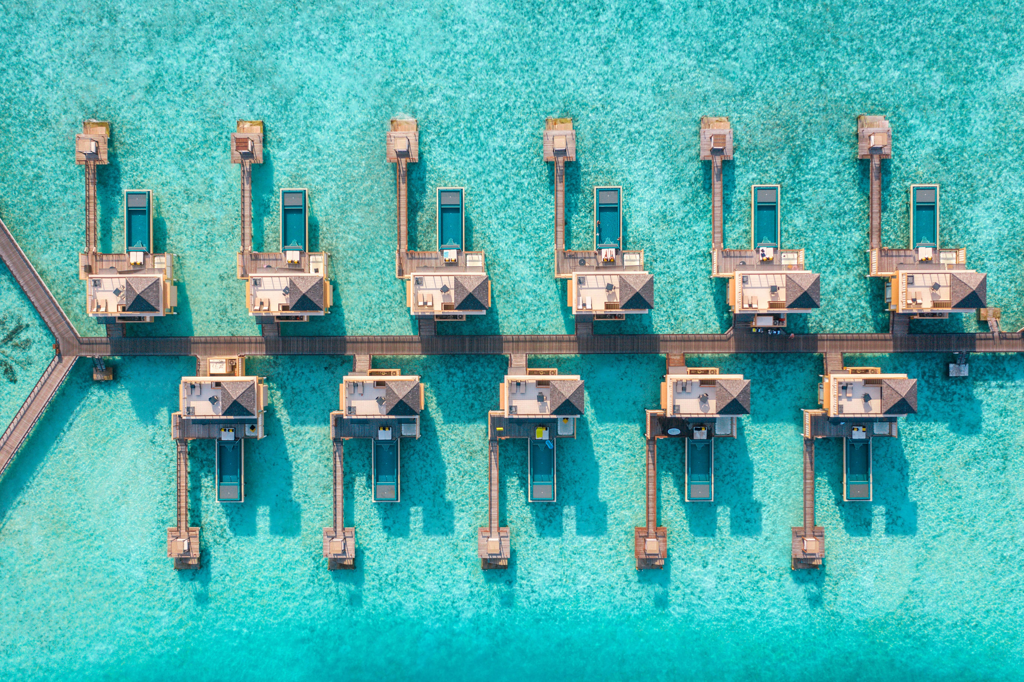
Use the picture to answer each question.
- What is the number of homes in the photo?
eleven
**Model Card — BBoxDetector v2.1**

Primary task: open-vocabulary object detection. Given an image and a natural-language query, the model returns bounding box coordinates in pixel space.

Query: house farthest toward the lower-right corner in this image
[798,364,917,439]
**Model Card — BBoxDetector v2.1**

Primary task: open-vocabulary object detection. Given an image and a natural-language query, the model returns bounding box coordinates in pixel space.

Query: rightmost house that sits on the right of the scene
[864,247,987,322]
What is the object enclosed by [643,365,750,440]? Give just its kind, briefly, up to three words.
house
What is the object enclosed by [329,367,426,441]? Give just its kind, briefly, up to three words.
house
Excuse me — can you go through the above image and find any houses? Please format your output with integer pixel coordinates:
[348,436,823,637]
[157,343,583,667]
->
[170,356,269,442]
[709,248,820,328]
[329,367,426,441]
[643,365,750,440]
[798,364,917,439]
[554,248,654,323]
[395,249,492,324]
[488,366,585,440]
[78,251,180,325]
[236,250,334,325]
[864,247,987,322]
